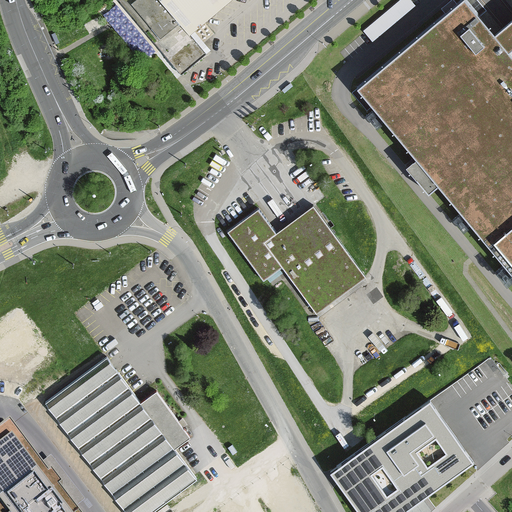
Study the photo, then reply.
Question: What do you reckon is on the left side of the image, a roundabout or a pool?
roundabout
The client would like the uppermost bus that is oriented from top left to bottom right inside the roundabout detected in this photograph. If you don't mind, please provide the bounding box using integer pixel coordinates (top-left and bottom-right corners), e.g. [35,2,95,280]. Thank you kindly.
[107,152,136,193]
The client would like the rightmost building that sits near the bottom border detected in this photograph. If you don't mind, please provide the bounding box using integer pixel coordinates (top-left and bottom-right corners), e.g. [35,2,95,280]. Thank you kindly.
[330,400,474,512]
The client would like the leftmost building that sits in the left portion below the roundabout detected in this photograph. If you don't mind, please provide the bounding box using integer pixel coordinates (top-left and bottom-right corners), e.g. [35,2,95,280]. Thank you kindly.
[0,416,84,512]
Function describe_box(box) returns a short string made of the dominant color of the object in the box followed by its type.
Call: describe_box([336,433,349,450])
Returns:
white vehicle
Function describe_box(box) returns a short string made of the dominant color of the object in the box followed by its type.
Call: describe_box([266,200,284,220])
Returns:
white vehicle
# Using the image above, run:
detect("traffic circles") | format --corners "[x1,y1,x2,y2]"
[46,142,144,242]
